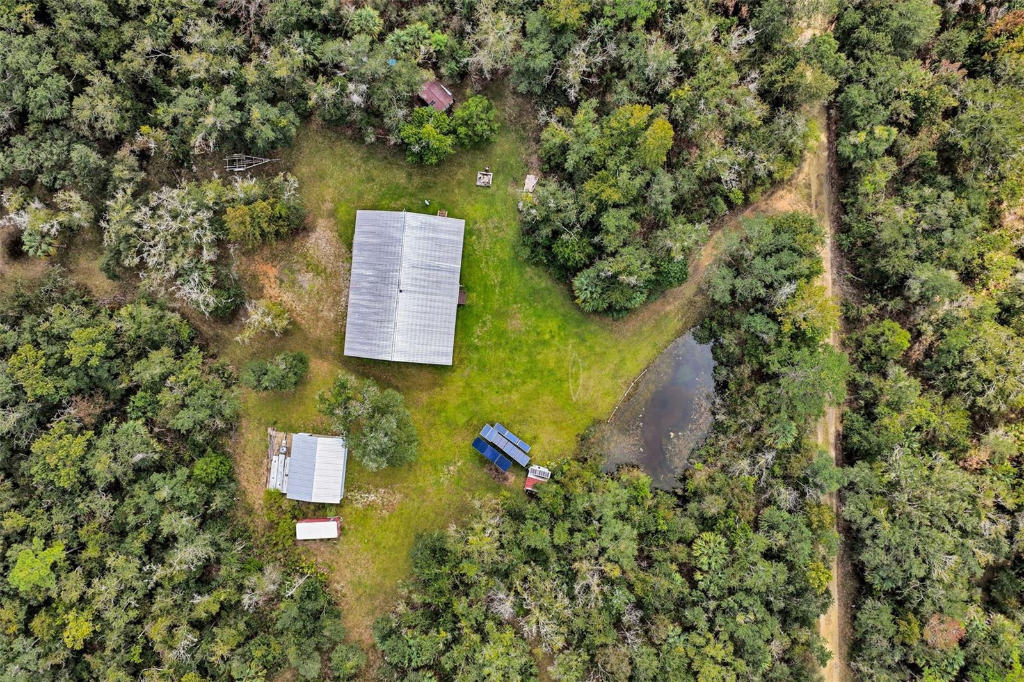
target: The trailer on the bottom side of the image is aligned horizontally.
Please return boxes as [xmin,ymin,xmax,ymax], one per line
[297,518,348,540]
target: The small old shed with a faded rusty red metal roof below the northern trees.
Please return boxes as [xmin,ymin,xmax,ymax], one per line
[422,80,454,115]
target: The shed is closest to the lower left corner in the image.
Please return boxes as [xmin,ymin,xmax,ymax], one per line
[286,432,347,503]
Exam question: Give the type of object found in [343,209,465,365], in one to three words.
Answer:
house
